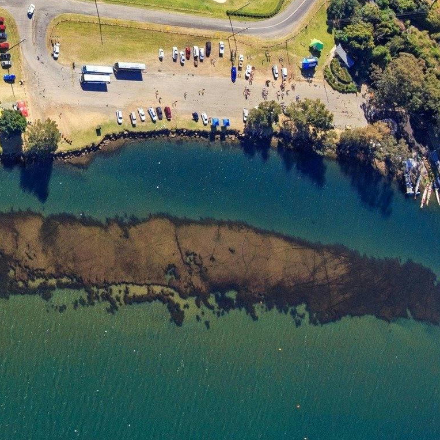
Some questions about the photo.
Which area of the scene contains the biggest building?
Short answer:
top right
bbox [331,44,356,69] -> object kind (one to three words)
building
